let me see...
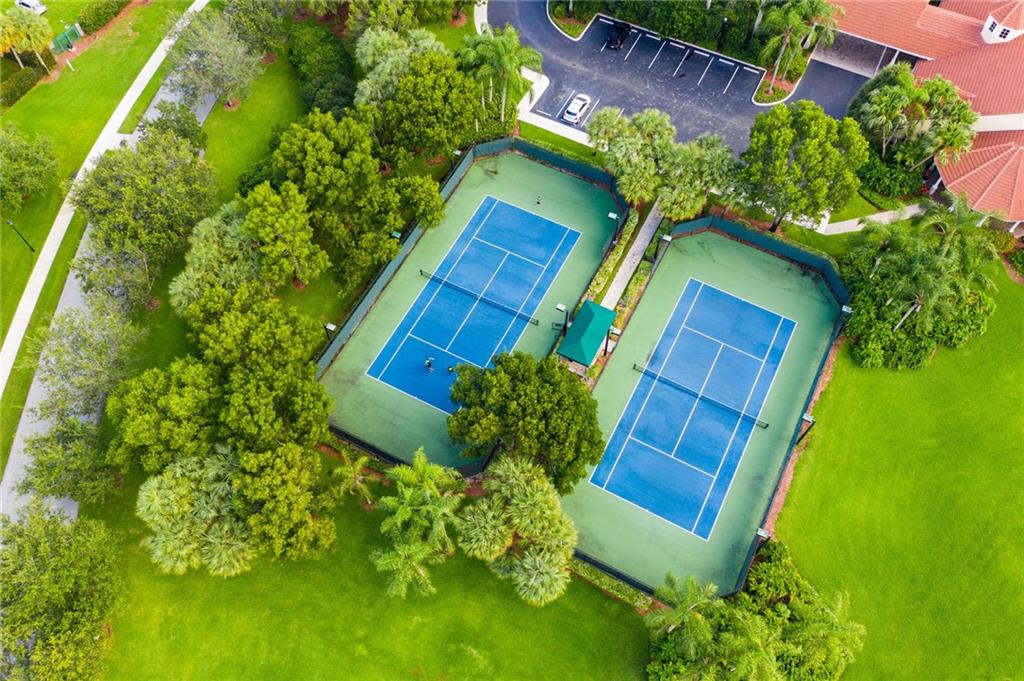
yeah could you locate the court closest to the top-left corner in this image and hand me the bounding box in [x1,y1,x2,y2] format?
[312,149,631,493]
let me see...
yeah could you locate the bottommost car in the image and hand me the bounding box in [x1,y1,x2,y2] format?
[563,90,590,120]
